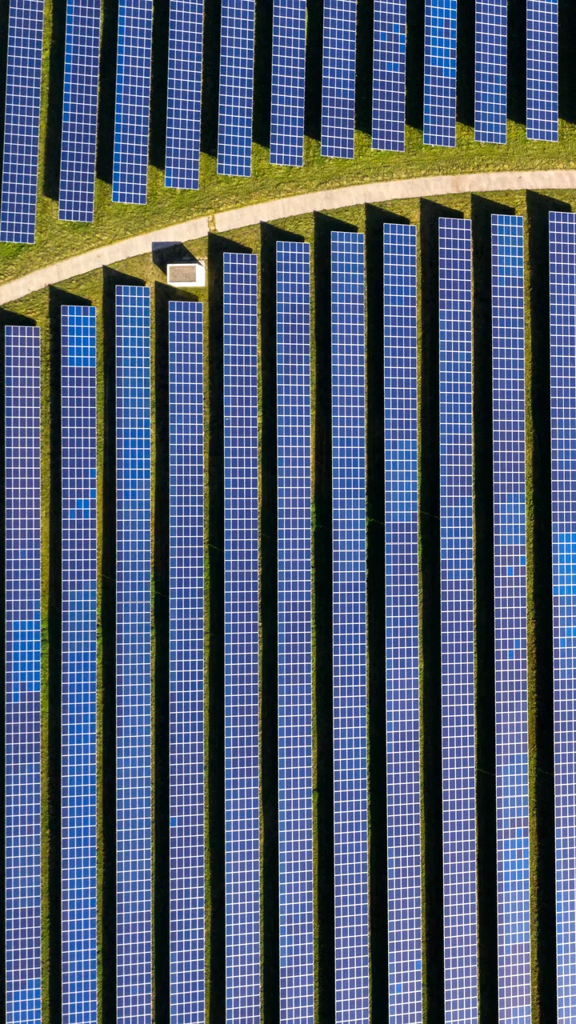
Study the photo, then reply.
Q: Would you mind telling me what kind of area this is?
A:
solar farm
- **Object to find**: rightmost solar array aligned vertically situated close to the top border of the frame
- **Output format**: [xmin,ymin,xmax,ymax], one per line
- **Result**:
[526,0,557,143]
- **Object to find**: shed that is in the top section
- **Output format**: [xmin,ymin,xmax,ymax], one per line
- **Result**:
[167,262,201,286]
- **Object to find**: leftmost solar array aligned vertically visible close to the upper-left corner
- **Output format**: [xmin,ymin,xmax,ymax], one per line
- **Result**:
[0,0,45,245]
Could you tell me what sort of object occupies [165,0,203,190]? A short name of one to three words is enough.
solar array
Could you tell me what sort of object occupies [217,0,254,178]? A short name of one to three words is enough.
solar array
